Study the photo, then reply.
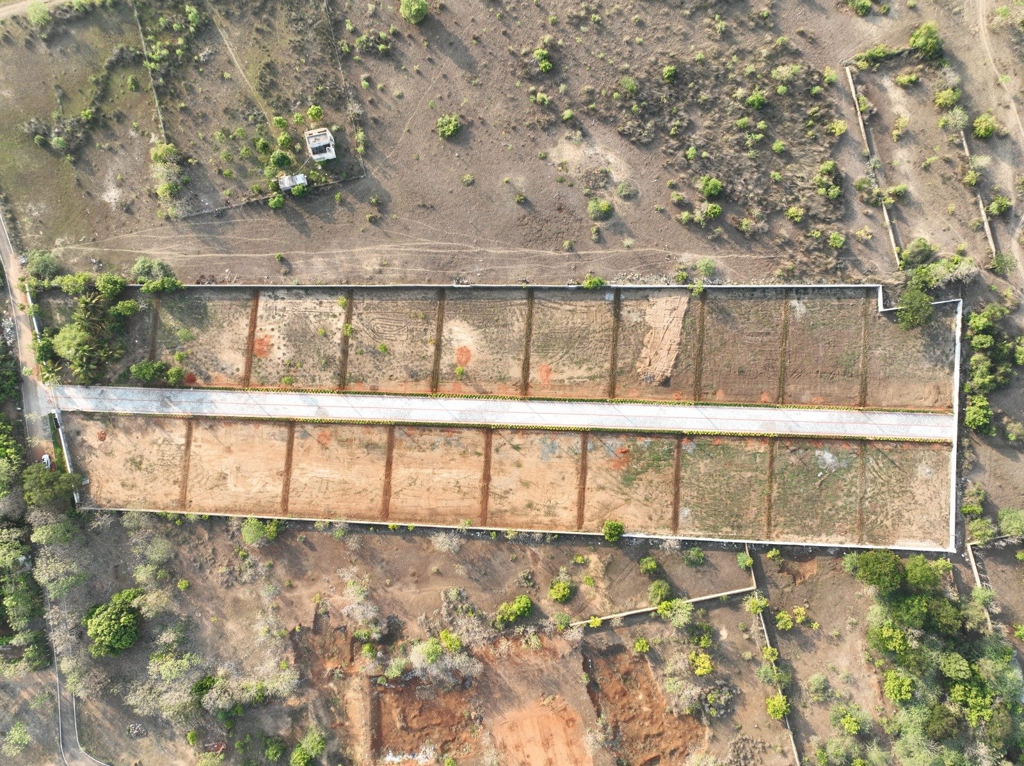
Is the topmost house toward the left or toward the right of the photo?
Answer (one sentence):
The topmost house appears in the left half of the scene.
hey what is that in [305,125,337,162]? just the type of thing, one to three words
house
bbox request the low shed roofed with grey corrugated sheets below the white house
[278,173,309,192]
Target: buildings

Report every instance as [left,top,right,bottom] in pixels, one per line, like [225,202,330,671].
[305,125,337,162]
[278,173,309,192]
